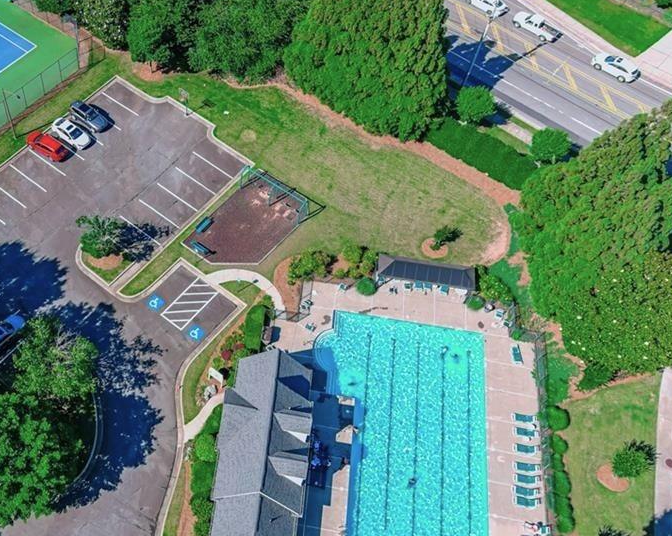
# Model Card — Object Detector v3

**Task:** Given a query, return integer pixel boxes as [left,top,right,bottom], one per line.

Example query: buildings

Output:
[376,253,475,302]
[207,347,316,536]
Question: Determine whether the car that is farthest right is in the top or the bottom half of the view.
top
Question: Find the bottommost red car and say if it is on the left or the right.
left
